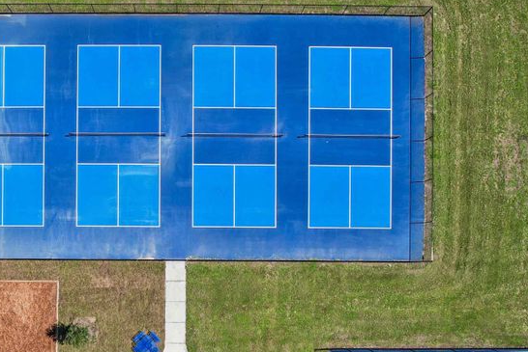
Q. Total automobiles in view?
0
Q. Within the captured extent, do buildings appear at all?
No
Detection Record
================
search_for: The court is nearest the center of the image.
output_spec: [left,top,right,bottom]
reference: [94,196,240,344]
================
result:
[235,165,275,227]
